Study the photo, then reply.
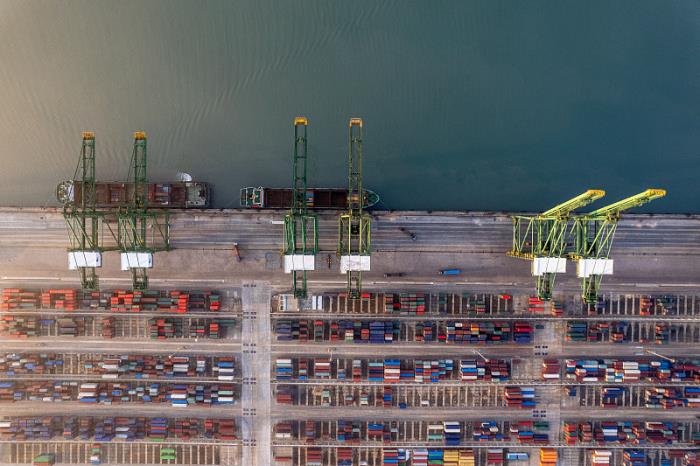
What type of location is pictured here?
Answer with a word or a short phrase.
port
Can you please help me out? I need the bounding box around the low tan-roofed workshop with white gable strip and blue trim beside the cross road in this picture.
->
[278,294,297,311]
